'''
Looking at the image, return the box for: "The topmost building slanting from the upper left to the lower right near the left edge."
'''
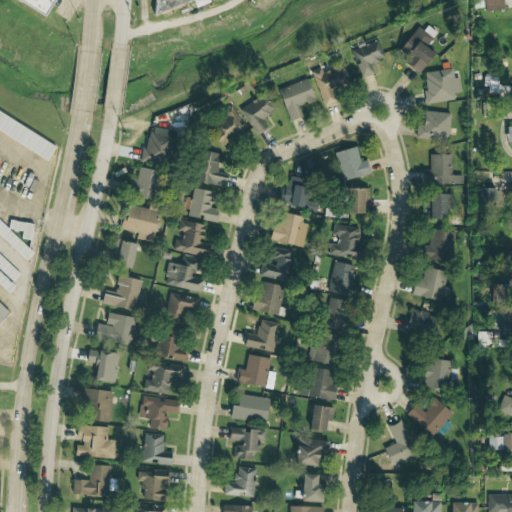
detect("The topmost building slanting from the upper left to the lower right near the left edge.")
[0,111,56,160]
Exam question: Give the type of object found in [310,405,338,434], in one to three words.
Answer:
house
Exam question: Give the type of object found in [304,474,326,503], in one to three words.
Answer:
house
